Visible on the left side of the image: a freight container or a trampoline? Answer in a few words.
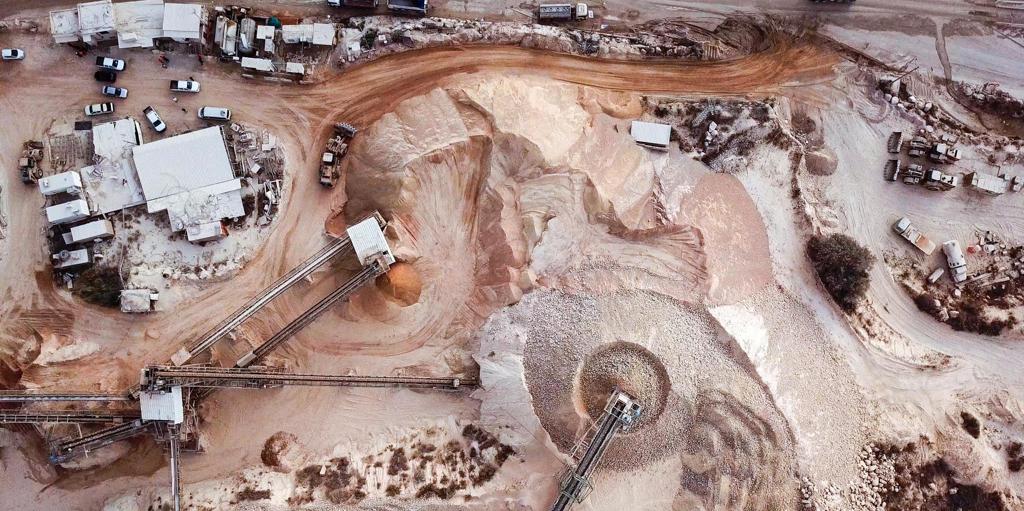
freight container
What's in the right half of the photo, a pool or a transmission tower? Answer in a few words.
transmission tower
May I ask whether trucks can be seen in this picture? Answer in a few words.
Yes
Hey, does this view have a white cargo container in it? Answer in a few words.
Yes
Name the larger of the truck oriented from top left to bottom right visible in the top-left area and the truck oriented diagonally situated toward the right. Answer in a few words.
the truck oriented diagonally situated toward the right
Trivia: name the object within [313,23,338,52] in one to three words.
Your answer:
shed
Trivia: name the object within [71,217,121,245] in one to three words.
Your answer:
shipping container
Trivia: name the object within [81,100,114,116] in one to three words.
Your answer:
vehicle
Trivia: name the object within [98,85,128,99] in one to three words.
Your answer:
car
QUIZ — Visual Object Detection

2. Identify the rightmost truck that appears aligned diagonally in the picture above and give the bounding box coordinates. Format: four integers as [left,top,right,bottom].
[894,212,949,261]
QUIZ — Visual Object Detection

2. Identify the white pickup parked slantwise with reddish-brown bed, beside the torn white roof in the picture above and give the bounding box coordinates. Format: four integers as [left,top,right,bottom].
[139,103,166,134]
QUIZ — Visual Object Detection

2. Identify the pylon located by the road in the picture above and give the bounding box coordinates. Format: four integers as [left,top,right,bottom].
[687,86,721,130]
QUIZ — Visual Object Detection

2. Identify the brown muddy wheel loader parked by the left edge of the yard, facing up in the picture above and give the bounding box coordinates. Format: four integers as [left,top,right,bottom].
[9,138,37,189]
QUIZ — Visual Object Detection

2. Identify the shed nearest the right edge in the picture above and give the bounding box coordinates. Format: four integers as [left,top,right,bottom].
[629,121,671,148]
